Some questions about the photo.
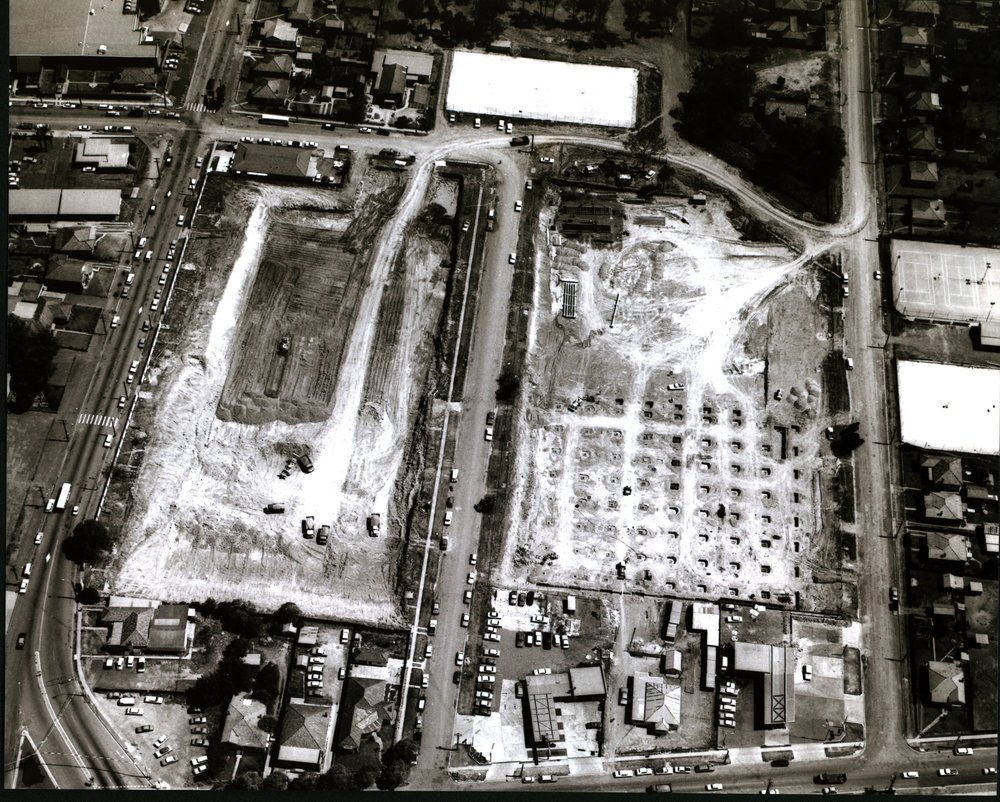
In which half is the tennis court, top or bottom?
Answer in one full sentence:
The top half of the photo is where the tennis court is.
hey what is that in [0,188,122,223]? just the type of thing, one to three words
building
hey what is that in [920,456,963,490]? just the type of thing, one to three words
house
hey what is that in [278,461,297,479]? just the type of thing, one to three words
work vehicle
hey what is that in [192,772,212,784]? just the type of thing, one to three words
vehicle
